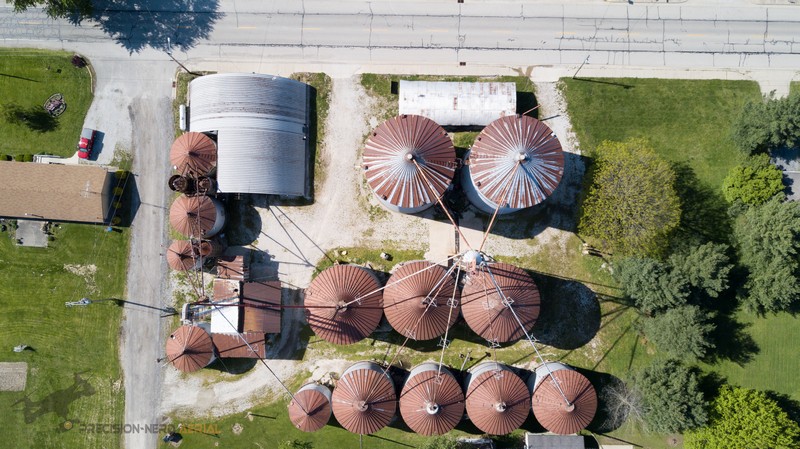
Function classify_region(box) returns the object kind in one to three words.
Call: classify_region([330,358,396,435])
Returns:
silo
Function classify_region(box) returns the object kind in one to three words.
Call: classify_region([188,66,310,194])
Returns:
barn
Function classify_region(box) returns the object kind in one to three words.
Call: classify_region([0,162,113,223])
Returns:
house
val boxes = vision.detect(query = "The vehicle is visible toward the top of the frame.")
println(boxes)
[75,128,94,160]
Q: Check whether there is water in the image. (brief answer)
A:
No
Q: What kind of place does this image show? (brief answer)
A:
industrial area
